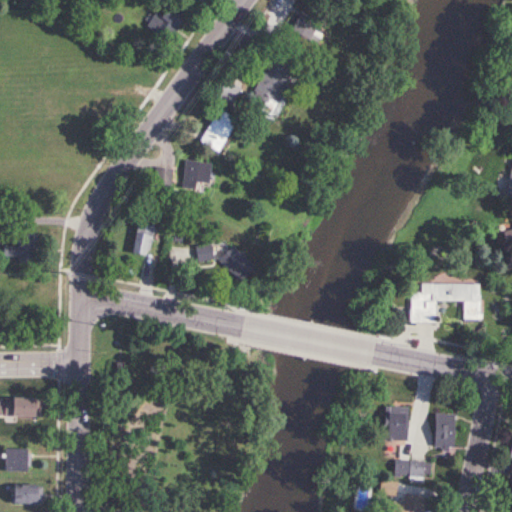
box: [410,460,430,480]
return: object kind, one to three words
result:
building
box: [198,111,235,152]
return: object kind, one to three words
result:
house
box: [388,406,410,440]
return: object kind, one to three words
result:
house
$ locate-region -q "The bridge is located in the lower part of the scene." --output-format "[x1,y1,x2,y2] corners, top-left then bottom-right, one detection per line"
[232,308,384,373]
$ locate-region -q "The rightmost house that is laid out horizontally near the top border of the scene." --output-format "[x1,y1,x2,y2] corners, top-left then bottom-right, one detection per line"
[293,24,324,42]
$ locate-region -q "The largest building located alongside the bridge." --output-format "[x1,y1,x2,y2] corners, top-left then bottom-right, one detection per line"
[410,283,484,324]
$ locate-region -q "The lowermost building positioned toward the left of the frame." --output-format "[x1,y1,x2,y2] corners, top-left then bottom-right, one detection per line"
[14,484,44,504]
